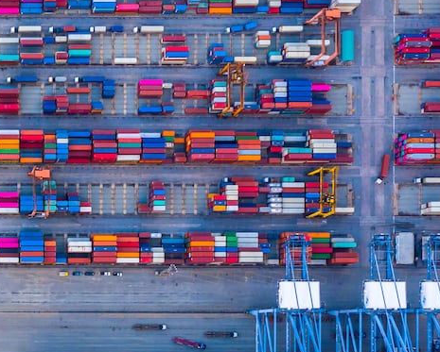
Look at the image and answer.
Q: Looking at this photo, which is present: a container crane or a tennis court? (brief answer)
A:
container crane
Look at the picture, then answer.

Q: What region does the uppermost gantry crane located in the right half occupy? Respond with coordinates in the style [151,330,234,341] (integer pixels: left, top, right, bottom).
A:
[303,9,338,69]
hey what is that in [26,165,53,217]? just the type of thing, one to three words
container crane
